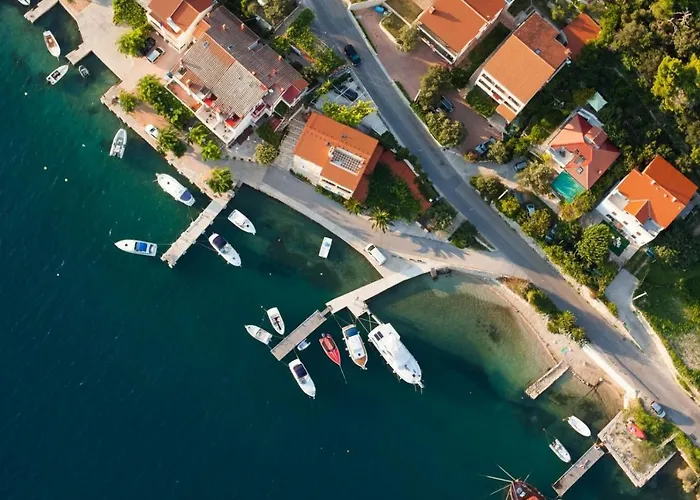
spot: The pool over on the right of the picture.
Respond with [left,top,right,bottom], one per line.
[550,170,584,205]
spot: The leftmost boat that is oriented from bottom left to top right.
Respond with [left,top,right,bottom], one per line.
[44,64,71,85]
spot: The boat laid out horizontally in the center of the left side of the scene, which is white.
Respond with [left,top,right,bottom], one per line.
[111,239,160,256]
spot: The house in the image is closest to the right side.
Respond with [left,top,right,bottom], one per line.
[595,146,698,236]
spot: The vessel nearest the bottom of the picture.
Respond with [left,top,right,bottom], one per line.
[487,464,538,500]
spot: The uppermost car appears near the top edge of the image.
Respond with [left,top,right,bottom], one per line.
[370,3,389,16]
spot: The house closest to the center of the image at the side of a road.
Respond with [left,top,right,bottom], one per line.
[292,112,383,202]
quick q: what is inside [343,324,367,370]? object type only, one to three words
boat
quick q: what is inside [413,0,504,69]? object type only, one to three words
house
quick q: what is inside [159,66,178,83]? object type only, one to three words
car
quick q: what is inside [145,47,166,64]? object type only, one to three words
car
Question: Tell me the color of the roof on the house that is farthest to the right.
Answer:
orange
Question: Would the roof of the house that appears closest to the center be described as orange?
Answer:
Yes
